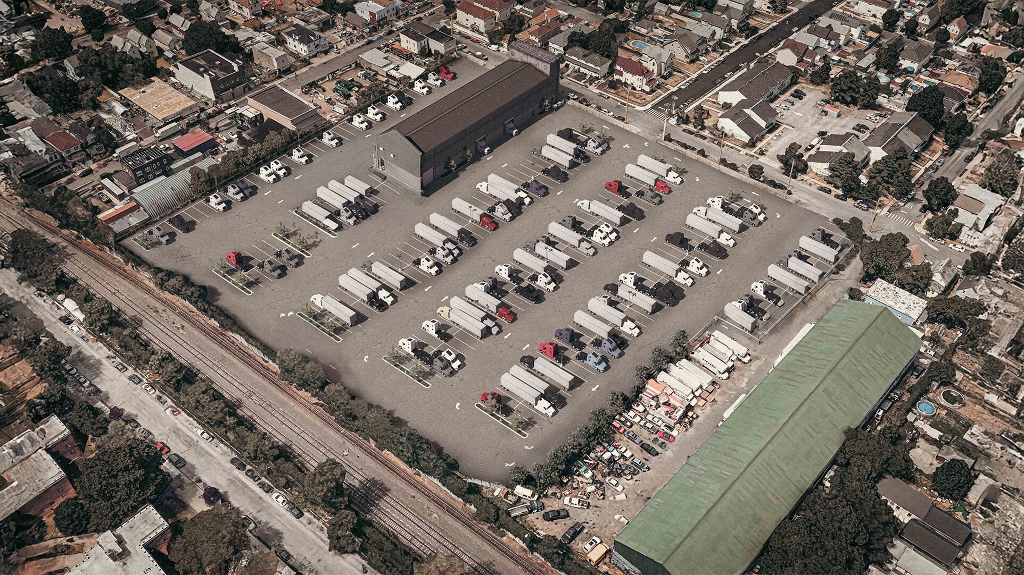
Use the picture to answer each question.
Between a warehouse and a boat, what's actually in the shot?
warehouse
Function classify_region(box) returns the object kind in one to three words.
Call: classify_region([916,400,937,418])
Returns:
swimming pool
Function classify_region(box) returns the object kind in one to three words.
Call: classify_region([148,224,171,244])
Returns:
vehicle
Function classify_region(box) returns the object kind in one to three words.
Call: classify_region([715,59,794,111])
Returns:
building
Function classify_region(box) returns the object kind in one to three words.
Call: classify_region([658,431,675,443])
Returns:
vehicle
